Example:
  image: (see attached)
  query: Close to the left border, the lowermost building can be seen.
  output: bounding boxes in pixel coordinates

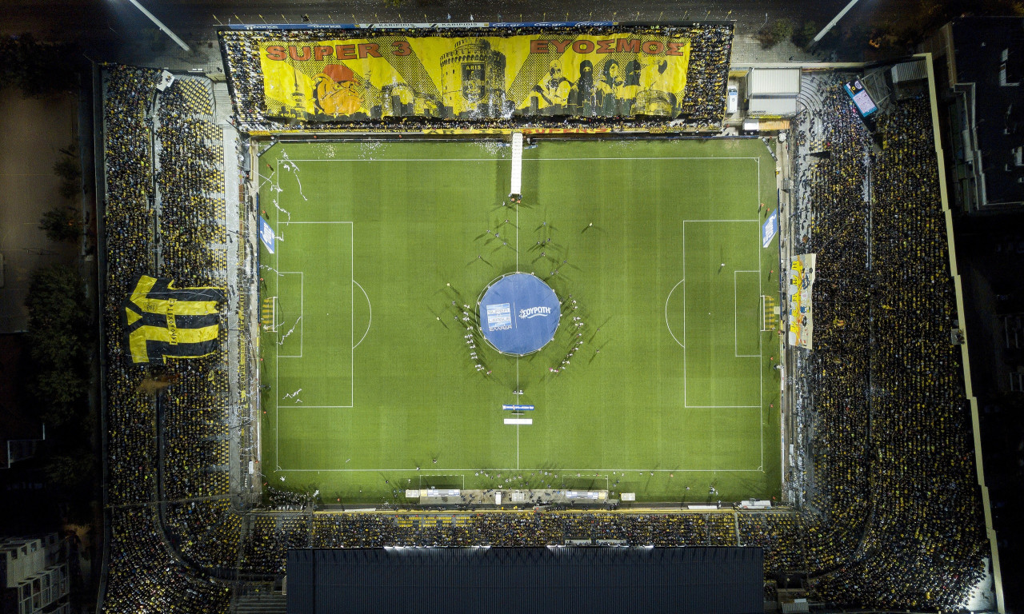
[0,506,90,614]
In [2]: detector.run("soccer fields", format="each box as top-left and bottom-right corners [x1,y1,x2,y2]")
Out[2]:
[256,136,778,500]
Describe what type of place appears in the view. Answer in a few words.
sports ground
